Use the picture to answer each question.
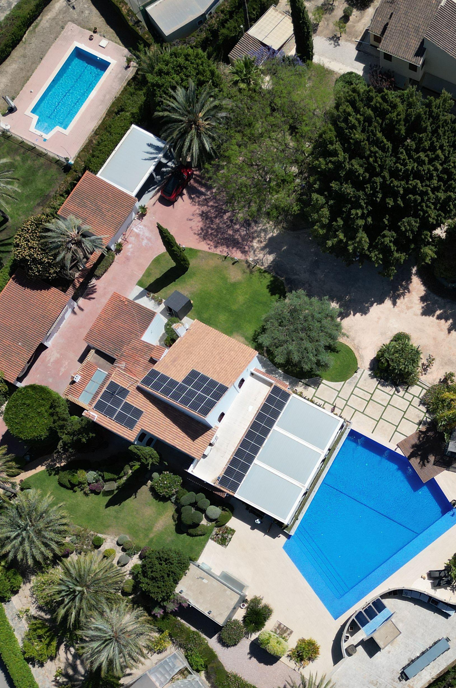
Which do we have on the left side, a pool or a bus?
pool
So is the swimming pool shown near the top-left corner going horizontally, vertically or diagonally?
diagonally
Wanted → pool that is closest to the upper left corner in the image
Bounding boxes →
[31,46,110,134]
